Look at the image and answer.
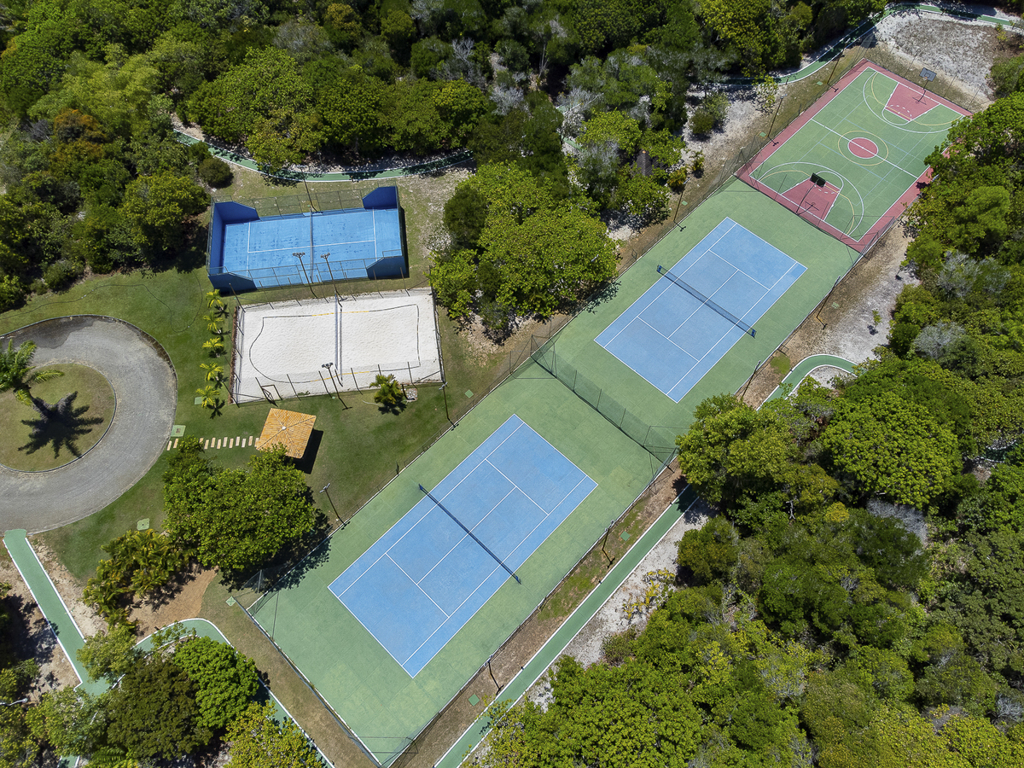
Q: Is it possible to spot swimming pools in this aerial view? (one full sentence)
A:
No, I can see no swimming pool in this picture.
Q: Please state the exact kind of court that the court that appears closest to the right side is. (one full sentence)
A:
What you see as the court that appears closest to the right side is a basketball court.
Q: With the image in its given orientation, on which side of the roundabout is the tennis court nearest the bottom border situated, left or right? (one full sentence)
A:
Relative to the roundabout, the tennis court nearest the bottom border is on the right.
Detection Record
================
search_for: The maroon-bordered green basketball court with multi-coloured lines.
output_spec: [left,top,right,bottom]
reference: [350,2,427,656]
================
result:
[734,57,979,252]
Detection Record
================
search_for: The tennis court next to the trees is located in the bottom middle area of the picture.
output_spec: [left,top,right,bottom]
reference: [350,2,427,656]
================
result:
[246,355,668,768]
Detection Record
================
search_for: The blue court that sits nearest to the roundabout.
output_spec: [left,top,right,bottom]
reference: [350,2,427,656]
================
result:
[205,182,403,293]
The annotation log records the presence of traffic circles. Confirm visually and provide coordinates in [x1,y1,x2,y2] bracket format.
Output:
[0,313,178,536]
